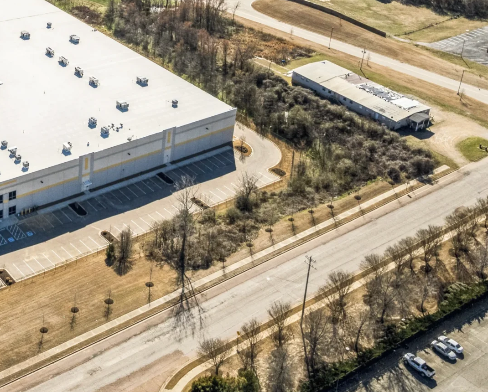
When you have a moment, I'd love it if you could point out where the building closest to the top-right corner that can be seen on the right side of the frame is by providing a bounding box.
[292,64,434,132]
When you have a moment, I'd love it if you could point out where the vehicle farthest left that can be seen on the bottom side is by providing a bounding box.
[402,356,438,374]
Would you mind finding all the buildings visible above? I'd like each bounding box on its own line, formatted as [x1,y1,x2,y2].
[292,64,434,132]
[0,0,237,220]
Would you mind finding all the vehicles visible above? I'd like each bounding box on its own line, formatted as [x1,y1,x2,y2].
[438,337,465,351]
[431,343,458,357]
[402,356,438,374]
